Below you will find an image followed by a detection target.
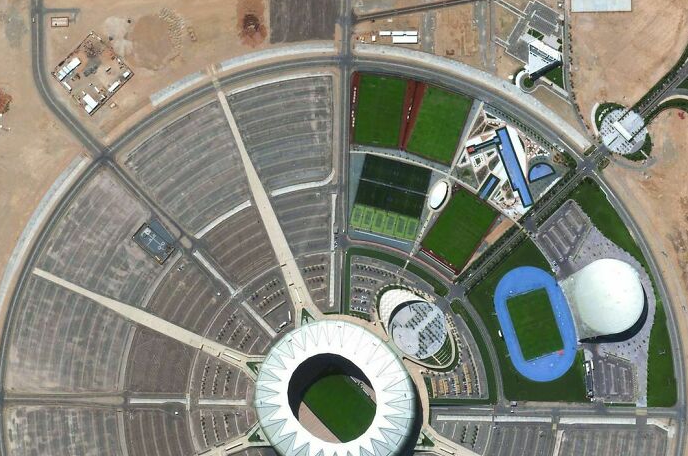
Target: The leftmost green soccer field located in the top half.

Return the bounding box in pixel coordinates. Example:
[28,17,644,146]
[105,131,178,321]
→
[350,73,415,149]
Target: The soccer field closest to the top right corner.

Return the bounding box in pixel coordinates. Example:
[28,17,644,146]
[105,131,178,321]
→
[403,80,473,167]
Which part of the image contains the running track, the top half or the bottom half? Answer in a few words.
bottom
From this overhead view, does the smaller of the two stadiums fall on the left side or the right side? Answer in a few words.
right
